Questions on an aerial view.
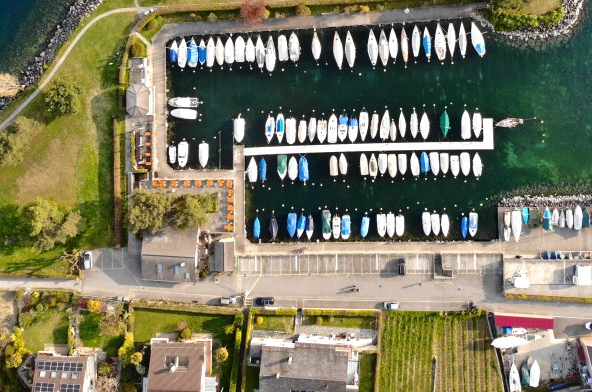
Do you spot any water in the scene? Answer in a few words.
Yes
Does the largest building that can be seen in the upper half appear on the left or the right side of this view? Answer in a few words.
left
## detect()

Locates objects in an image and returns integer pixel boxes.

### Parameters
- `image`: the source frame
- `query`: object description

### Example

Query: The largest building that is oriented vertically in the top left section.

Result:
[127,58,155,116]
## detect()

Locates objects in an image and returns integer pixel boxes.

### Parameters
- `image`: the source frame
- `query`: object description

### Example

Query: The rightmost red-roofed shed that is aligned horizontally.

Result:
[494,312,554,329]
